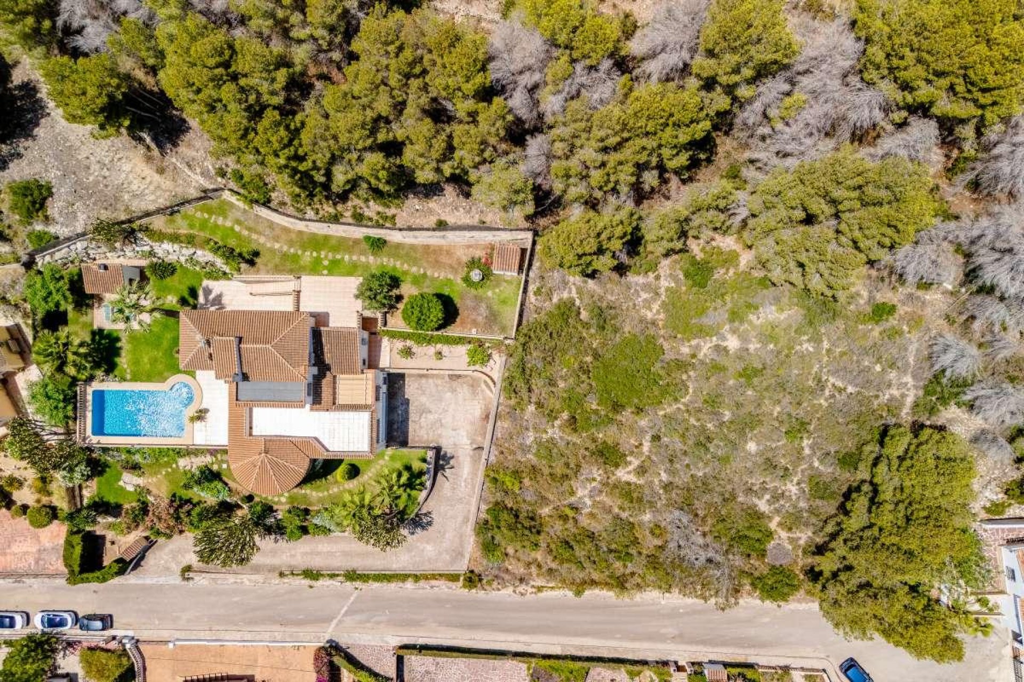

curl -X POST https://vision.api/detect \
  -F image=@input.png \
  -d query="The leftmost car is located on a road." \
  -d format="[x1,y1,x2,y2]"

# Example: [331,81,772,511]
[0,608,27,631]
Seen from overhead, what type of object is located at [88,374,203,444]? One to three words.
swimming pool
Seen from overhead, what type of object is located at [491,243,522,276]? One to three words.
shed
